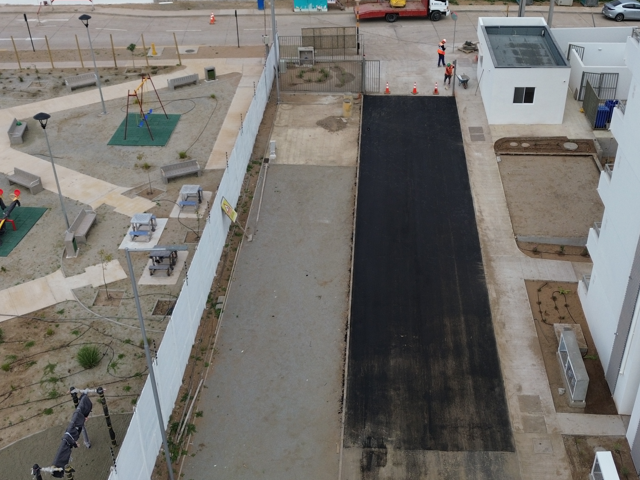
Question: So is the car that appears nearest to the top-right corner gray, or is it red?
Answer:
gray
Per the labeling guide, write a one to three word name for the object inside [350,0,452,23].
truck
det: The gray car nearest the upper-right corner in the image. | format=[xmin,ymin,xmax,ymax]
[604,0,640,23]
